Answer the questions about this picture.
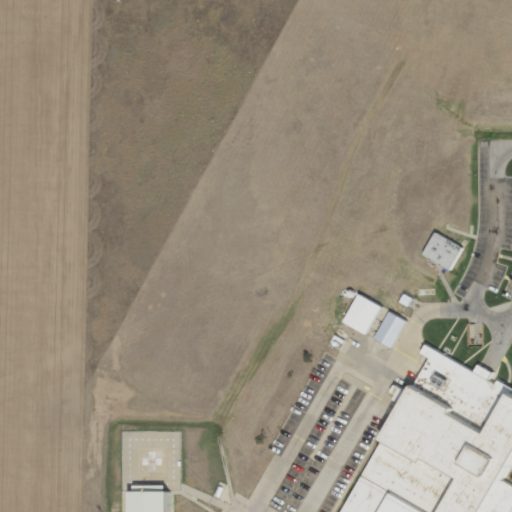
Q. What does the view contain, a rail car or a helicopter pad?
helicopter pad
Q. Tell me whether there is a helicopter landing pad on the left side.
Yes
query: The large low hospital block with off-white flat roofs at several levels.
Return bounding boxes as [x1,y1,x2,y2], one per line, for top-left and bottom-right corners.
[338,344,512,512]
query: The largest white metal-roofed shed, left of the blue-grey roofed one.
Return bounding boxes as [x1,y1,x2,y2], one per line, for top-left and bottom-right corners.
[343,294,382,334]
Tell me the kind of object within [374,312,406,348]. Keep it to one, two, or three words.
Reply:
shed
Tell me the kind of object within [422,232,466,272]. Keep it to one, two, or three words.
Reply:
building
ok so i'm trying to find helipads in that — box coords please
[122,431,182,491]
